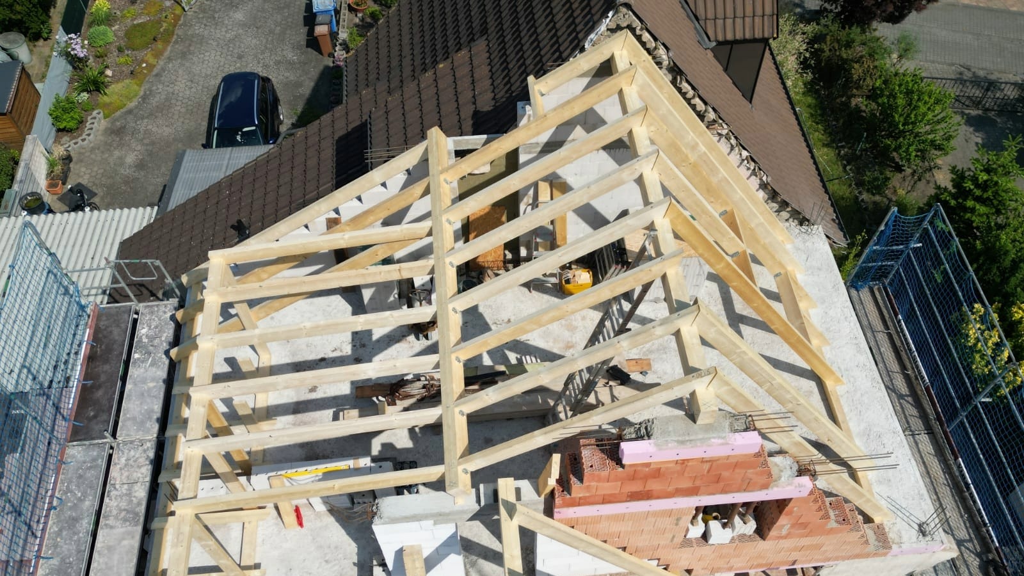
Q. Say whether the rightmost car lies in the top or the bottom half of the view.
top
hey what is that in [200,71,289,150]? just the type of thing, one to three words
car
